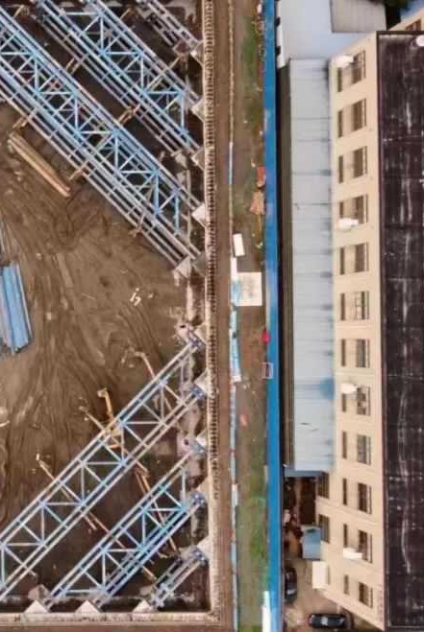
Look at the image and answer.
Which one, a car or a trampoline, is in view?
car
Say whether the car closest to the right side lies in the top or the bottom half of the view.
bottom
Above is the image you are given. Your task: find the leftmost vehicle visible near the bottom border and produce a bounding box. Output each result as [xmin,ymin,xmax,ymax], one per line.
[281,564,301,605]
